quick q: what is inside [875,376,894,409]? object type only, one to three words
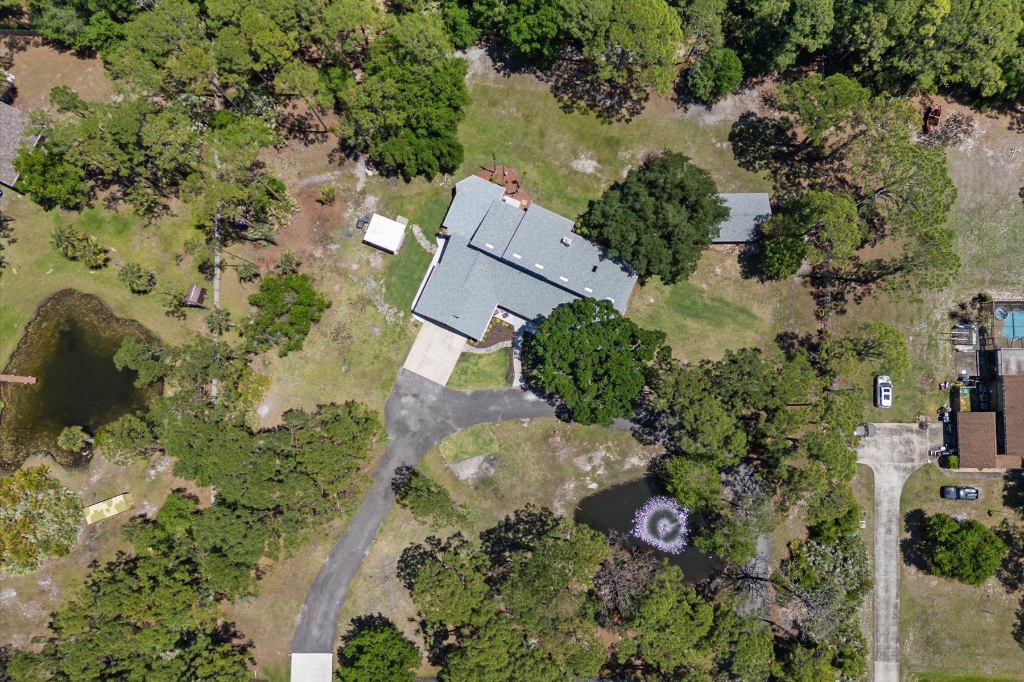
car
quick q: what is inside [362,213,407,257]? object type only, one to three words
shed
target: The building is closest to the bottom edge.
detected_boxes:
[949,349,1024,468]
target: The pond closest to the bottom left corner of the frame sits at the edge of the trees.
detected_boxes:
[0,289,167,476]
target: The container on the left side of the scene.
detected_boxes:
[82,490,138,524]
